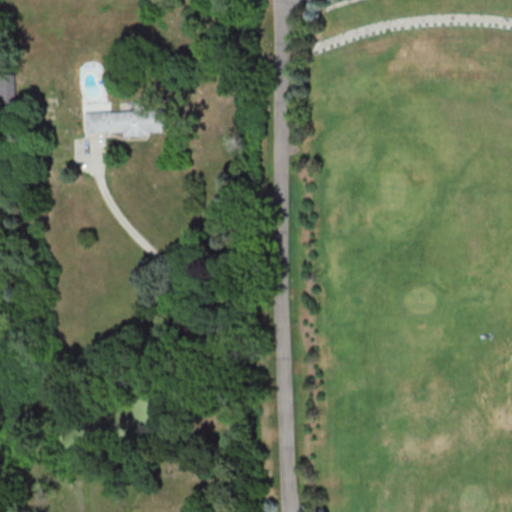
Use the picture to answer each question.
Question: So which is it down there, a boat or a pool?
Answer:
pool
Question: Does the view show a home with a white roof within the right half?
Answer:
No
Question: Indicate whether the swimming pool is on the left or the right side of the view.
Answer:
left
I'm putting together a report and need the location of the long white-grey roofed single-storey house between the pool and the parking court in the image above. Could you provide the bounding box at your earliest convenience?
[86,112,162,142]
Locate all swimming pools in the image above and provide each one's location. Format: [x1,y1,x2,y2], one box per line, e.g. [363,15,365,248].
[80,61,112,135]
